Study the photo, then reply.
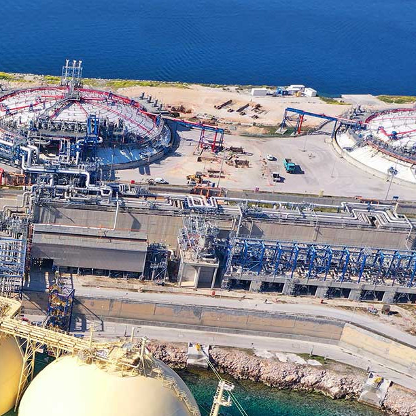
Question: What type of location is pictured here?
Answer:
industrial area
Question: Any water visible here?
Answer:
Yes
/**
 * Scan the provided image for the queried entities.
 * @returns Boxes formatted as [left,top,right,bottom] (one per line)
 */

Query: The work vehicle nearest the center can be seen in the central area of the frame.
[174,171,202,193]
